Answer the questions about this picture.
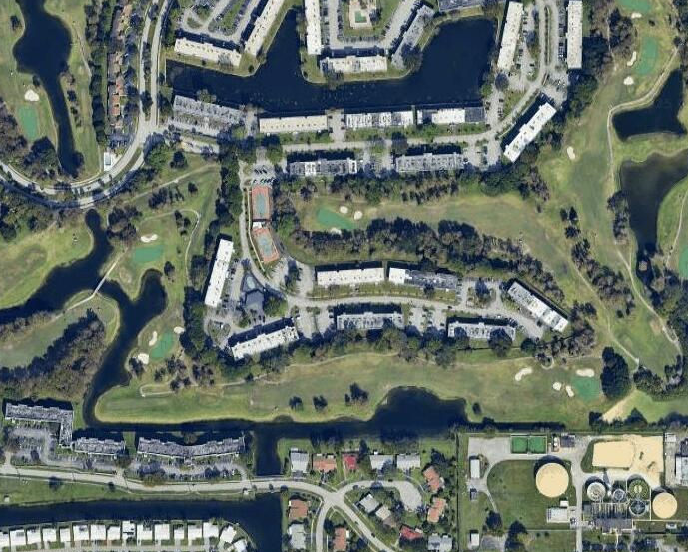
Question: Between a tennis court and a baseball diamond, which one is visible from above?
tennis court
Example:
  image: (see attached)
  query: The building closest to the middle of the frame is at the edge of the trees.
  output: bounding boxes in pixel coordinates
[316,266,386,287]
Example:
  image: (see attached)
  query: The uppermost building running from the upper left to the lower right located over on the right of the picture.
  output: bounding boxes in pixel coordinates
[508,281,570,333]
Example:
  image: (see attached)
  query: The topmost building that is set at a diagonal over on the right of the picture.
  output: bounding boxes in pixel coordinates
[391,4,436,66]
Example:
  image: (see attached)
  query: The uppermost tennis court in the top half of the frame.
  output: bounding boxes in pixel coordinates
[252,186,269,219]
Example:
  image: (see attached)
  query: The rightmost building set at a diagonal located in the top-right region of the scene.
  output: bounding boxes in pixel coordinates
[504,102,559,162]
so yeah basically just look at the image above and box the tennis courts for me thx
[253,229,279,262]
[252,186,269,219]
